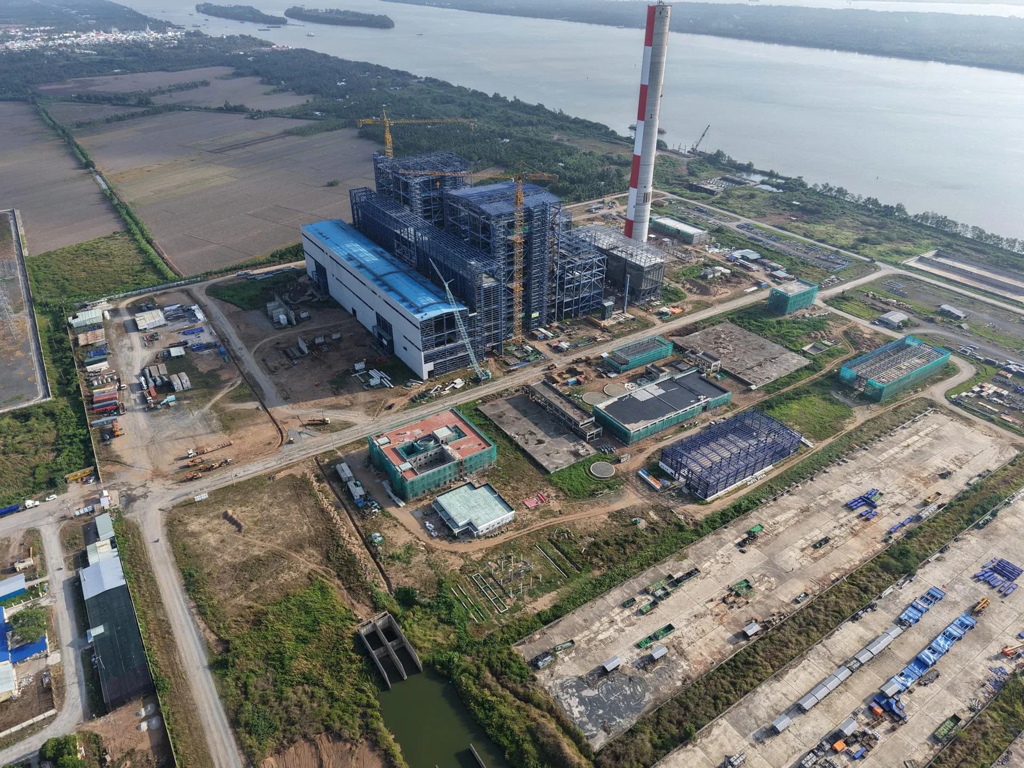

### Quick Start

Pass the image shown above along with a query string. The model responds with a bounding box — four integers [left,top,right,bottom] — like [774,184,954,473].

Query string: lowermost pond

[372,657,511,768]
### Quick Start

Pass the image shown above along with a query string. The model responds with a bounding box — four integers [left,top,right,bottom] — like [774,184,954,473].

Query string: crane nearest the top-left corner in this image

[359,111,476,206]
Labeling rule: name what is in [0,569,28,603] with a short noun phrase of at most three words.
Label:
house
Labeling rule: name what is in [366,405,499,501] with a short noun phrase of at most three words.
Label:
building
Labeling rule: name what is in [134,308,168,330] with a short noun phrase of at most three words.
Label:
shed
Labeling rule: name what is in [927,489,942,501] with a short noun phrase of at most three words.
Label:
vehicle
